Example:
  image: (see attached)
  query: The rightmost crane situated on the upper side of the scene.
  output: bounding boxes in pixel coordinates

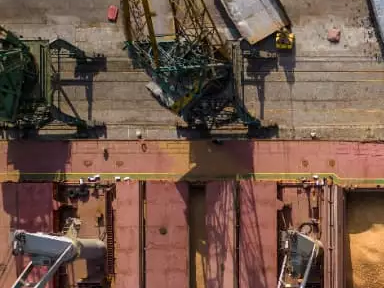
[122,0,280,129]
